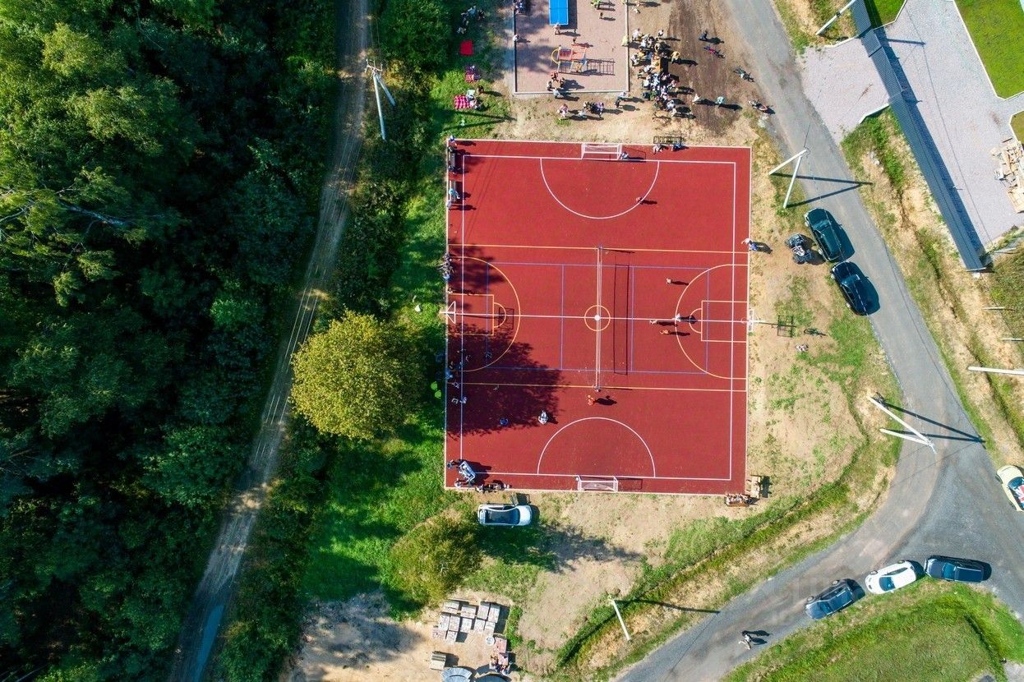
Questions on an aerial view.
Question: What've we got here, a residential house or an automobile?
automobile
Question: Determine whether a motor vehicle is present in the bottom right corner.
Yes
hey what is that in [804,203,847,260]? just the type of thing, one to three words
car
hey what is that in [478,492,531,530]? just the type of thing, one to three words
car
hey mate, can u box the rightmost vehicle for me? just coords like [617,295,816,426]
[999,465,1024,513]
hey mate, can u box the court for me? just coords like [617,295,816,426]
[442,137,753,498]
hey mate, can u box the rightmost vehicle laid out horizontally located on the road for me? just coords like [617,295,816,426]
[926,553,989,583]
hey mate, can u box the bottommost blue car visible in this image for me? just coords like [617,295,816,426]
[806,580,860,623]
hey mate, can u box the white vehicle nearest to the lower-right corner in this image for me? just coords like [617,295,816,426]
[869,562,920,597]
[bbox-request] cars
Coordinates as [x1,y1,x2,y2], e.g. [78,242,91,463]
[478,492,531,530]
[999,465,1024,513]
[869,562,920,597]
[926,553,989,583]
[806,580,860,623]
[833,260,874,312]
[804,203,847,260]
